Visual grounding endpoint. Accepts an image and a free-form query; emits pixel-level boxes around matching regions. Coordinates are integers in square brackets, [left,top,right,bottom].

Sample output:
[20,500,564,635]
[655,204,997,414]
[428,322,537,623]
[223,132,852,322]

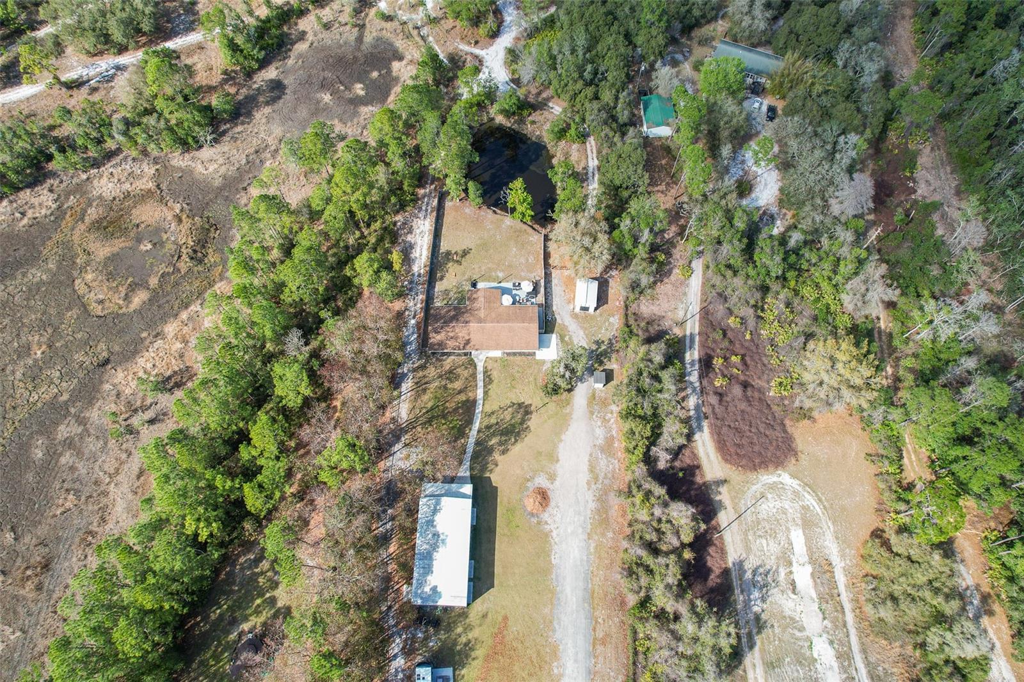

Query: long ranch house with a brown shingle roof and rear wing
[428,286,539,357]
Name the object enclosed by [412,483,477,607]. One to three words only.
building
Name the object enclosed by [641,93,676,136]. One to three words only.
building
